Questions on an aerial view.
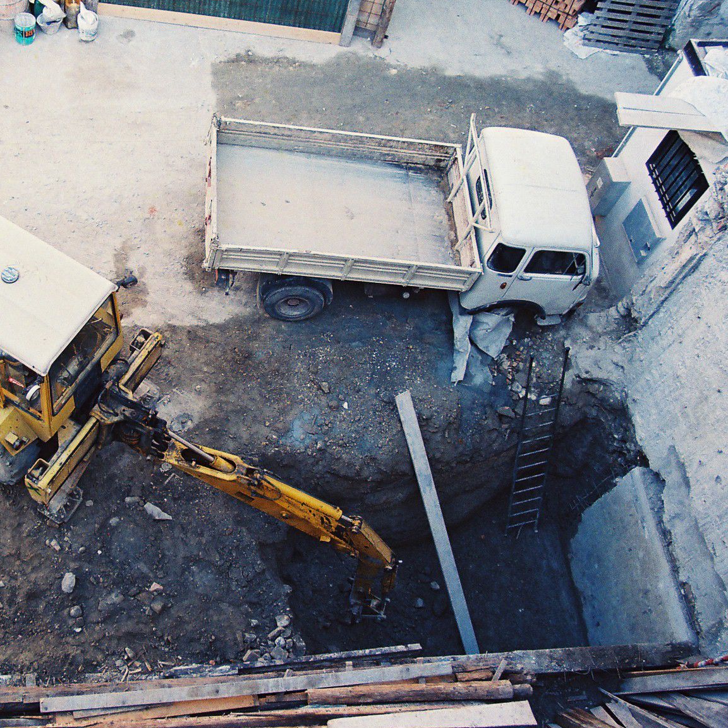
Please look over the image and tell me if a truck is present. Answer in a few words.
Yes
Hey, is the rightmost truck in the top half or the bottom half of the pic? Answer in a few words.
top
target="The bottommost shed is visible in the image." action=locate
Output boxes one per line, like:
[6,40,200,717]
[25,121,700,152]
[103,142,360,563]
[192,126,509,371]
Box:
[588,125,728,349]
